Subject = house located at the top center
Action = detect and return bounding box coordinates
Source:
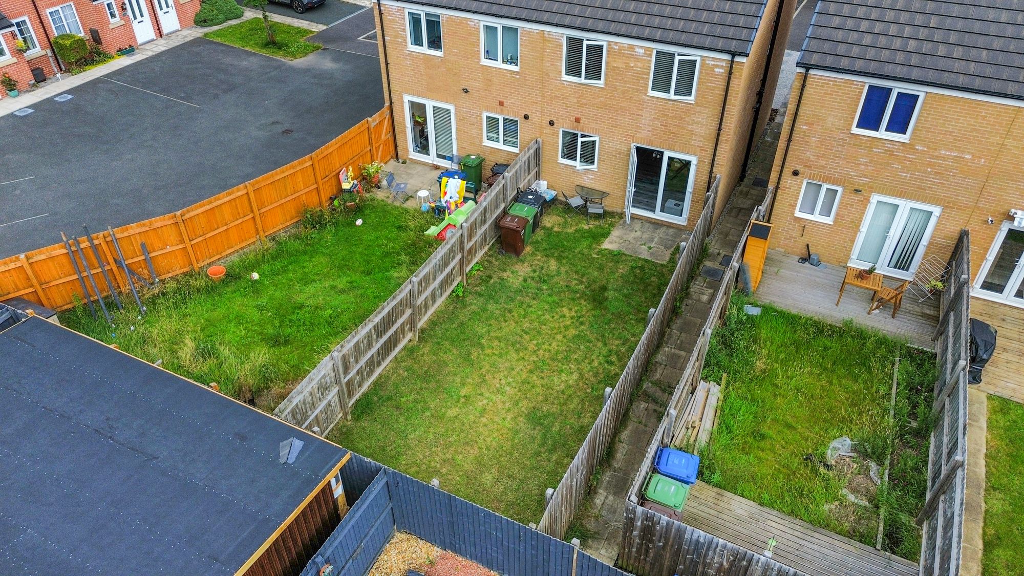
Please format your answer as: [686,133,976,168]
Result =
[377,0,793,235]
